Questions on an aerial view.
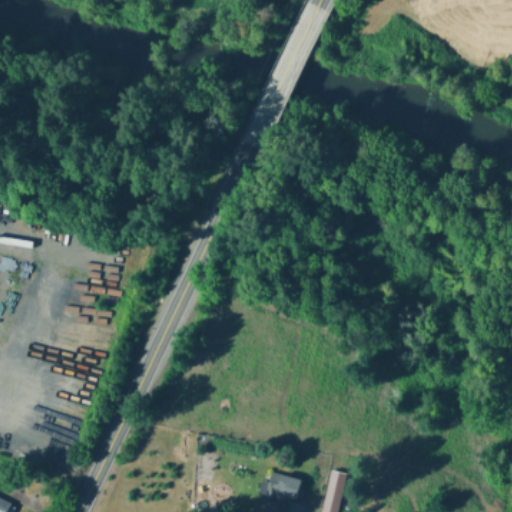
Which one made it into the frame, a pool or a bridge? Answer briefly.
bridge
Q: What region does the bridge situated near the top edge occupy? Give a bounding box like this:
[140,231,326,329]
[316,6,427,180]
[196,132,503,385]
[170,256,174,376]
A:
[253,0,330,122]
